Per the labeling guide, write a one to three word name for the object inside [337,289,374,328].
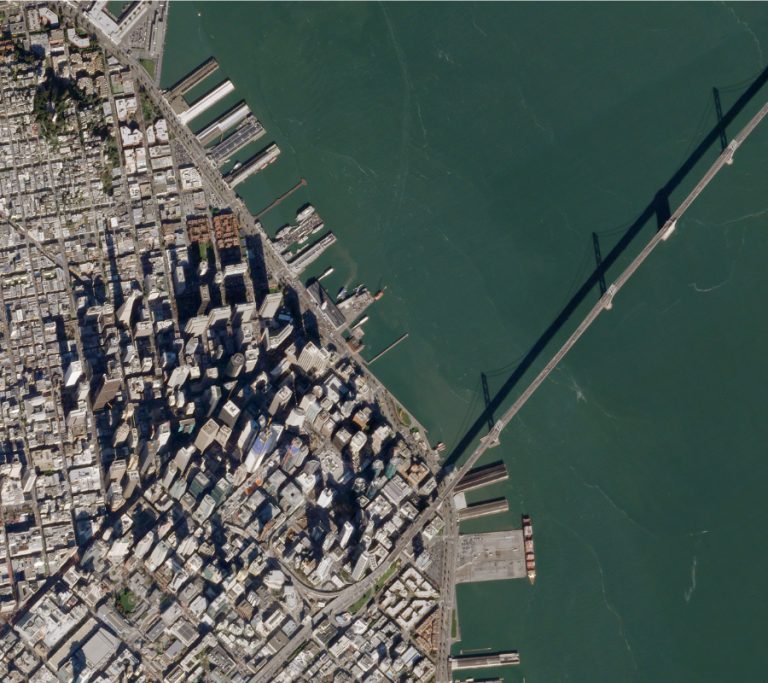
pier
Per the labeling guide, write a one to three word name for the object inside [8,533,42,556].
building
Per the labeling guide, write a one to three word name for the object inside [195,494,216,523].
building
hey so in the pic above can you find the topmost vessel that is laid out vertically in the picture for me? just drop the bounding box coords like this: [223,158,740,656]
[522,516,536,585]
